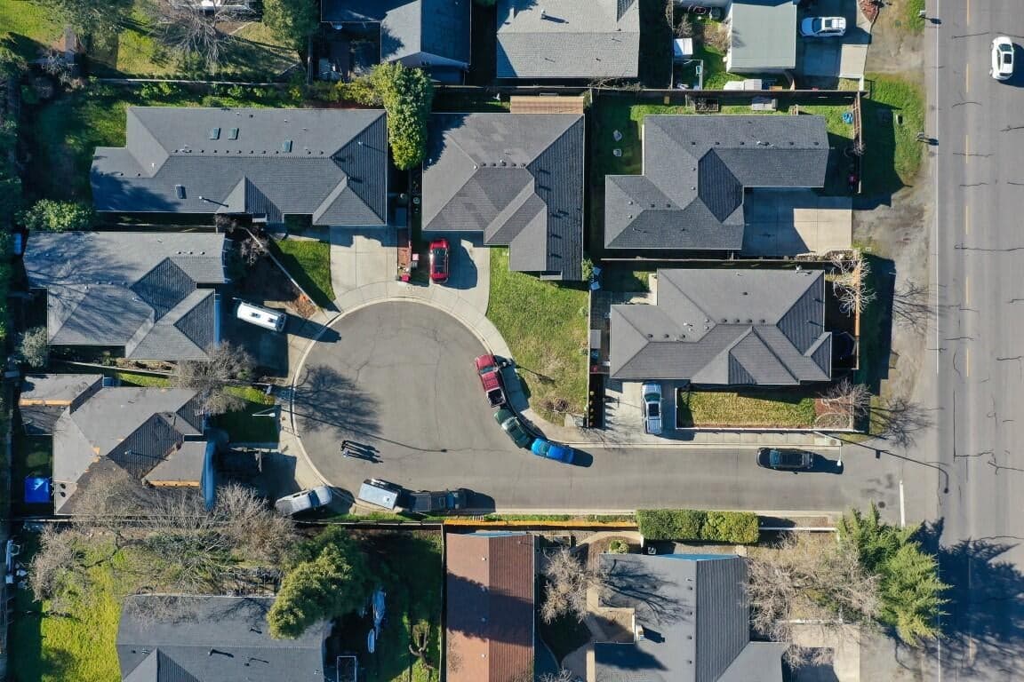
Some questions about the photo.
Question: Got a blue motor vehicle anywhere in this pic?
Yes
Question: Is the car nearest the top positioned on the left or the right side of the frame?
right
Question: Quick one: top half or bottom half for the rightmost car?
top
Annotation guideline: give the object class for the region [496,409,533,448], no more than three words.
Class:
car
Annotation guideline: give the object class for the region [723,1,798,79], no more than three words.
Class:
building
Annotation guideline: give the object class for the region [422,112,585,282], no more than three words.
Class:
house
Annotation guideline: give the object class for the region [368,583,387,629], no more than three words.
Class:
boat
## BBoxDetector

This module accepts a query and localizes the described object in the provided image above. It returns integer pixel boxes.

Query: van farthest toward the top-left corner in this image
[233,301,291,335]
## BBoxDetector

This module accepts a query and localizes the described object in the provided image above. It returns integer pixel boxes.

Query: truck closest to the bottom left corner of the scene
[276,484,332,518]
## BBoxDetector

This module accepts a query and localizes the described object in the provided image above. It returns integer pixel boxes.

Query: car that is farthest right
[986,38,1013,82]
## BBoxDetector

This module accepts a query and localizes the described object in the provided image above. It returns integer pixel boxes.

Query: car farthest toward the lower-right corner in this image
[756,448,810,471]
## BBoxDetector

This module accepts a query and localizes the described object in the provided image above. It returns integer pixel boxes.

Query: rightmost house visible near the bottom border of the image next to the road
[598,554,787,682]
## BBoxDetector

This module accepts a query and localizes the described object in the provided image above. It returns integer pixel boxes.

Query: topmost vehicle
[798,15,845,39]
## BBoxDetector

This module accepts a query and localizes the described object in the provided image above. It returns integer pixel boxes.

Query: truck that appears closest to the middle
[479,355,507,408]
